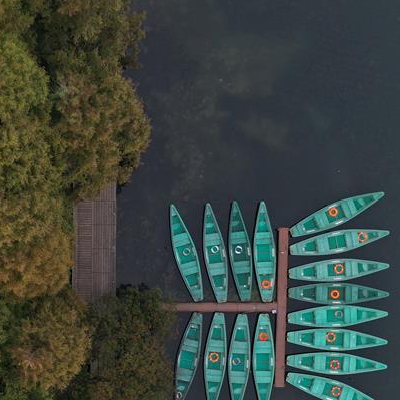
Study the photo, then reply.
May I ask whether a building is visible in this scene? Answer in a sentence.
No, the scene contains no building.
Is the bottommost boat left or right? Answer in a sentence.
The bottommost boat is on the right side of the image.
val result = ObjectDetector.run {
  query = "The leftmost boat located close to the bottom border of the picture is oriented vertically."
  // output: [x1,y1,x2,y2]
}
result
[175,311,203,400]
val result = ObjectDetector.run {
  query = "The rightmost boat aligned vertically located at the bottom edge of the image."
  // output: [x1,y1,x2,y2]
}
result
[253,309,275,400]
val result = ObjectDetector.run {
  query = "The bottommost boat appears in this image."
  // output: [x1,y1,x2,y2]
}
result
[284,372,375,400]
